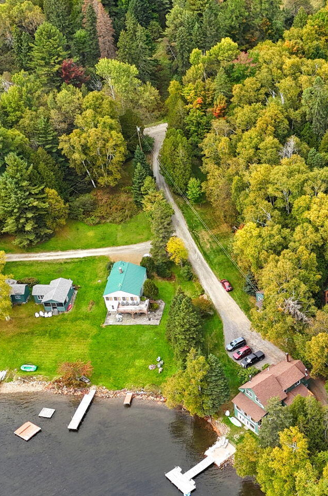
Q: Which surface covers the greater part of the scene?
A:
trees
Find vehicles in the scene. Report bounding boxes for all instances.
[224,333,247,352]
[220,278,233,292]
[231,345,252,360]
[240,350,266,368]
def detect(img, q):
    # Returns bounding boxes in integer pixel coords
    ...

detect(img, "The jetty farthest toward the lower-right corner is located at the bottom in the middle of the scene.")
[165,456,214,496]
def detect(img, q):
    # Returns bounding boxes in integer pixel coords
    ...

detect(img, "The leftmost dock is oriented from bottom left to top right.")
[67,389,98,430]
